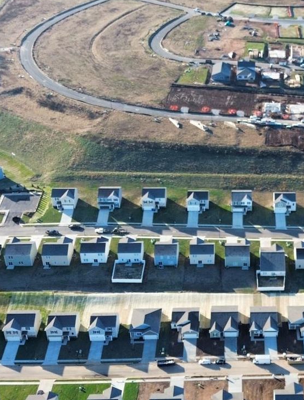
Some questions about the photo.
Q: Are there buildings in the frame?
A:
Yes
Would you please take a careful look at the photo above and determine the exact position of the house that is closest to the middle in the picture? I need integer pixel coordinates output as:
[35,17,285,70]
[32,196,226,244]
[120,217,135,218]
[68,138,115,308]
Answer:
[140,186,170,209]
